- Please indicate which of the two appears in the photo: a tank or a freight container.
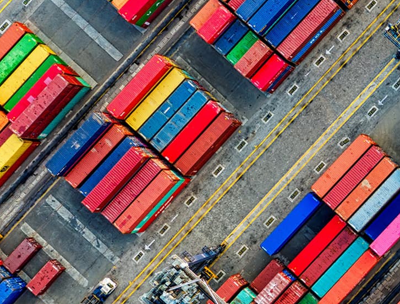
freight container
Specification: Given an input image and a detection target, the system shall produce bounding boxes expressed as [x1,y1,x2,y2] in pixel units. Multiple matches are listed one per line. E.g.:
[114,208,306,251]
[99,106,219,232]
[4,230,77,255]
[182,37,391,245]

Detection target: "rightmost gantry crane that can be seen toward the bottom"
[135,231,251,304]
